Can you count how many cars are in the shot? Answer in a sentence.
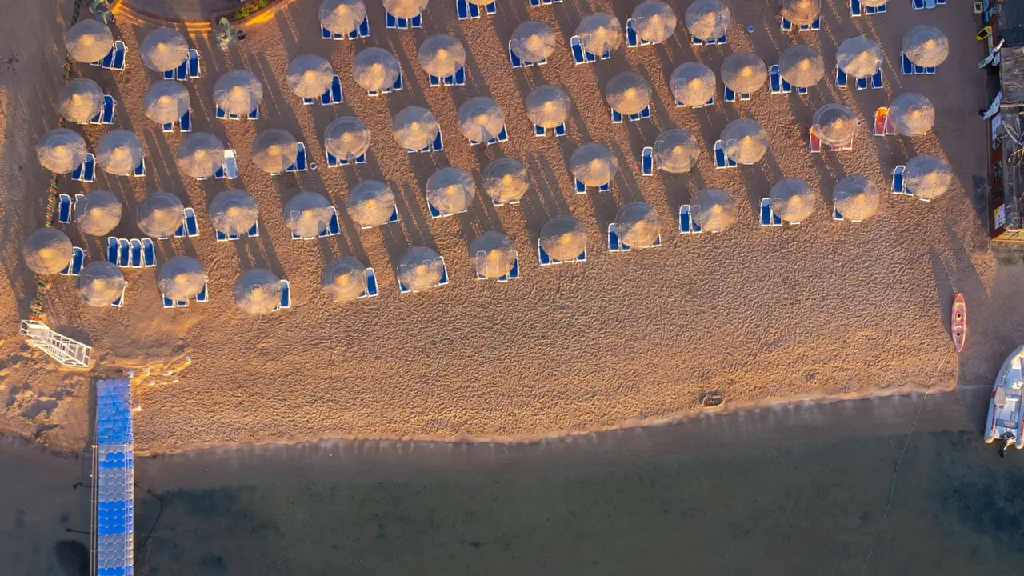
The picture shows no cars.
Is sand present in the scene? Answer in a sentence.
Yes, the picture does contain sand.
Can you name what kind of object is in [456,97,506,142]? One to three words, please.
umbrella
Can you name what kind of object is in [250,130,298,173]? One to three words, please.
umbrella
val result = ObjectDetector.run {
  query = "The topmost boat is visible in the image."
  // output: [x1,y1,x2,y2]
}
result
[952,292,966,352]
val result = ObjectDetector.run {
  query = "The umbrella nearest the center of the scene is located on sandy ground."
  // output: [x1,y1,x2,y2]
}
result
[468,231,517,277]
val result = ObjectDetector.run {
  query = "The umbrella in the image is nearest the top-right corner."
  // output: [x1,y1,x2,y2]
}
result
[901,25,949,68]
